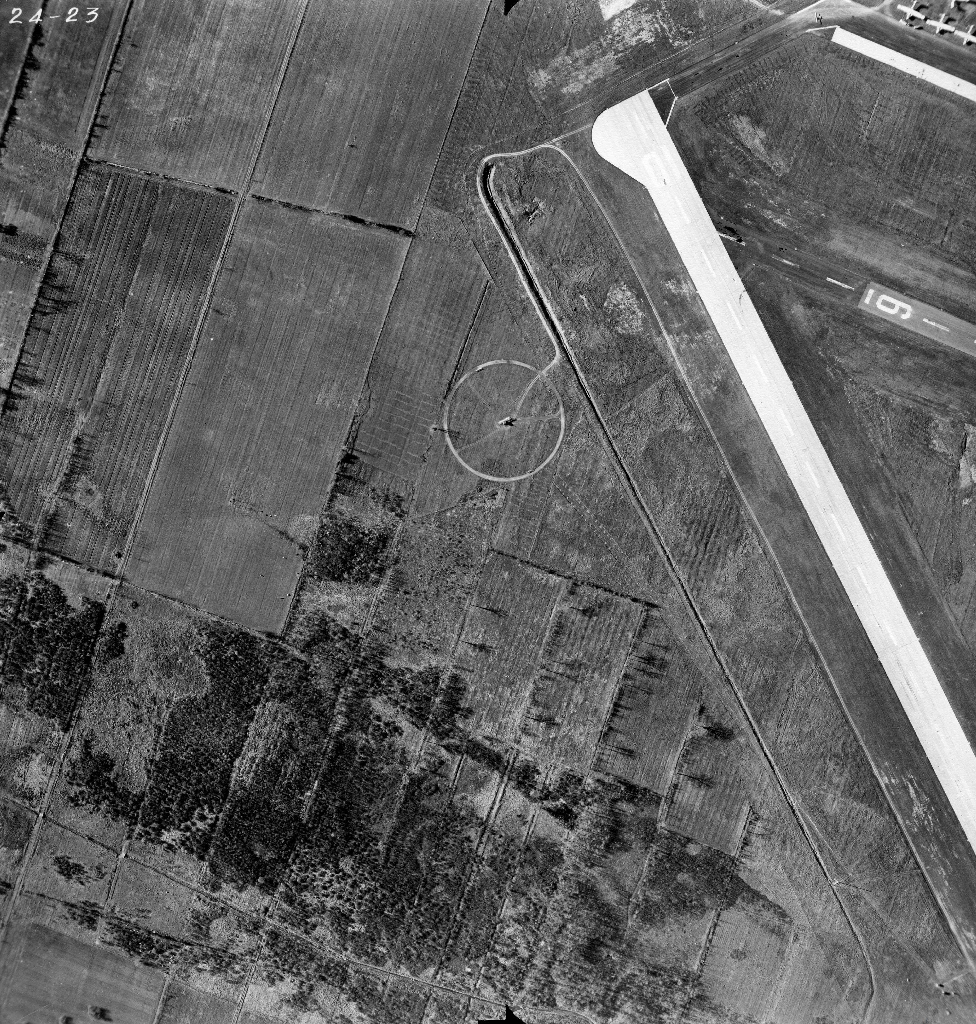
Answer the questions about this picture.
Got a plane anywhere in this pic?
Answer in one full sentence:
Yes, a plane appears in the view.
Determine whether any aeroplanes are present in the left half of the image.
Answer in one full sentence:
No, there is no aeroplane in the left half of the image.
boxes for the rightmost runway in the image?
[858,281,976,359]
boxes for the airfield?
[592,0,976,853]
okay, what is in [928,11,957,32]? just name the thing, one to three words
airplane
